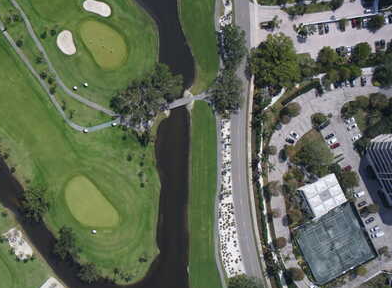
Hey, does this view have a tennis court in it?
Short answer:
Yes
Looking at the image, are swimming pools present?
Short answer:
No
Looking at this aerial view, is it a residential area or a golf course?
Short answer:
golf course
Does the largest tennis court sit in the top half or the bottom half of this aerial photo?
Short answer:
bottom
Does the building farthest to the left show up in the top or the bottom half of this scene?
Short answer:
bottom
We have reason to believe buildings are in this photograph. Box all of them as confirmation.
[296,172,347,217]
[367,135,392,196]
